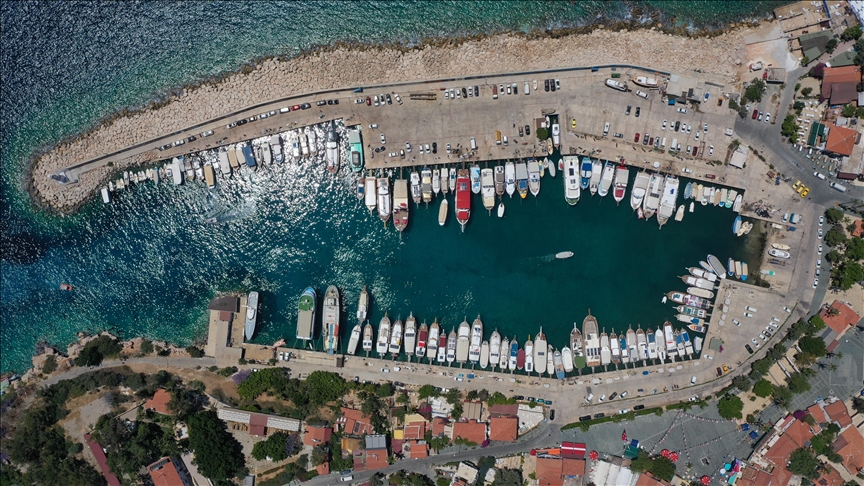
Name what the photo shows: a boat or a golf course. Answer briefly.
boat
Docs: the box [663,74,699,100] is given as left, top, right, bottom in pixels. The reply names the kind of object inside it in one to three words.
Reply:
building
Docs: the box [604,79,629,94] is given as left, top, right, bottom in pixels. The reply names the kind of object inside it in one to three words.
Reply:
boat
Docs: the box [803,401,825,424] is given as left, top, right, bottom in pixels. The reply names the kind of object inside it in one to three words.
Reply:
house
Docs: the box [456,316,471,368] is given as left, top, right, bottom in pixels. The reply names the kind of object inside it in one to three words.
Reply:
boat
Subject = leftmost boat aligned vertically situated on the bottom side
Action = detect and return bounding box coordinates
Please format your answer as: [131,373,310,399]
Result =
[245,291,259,341]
